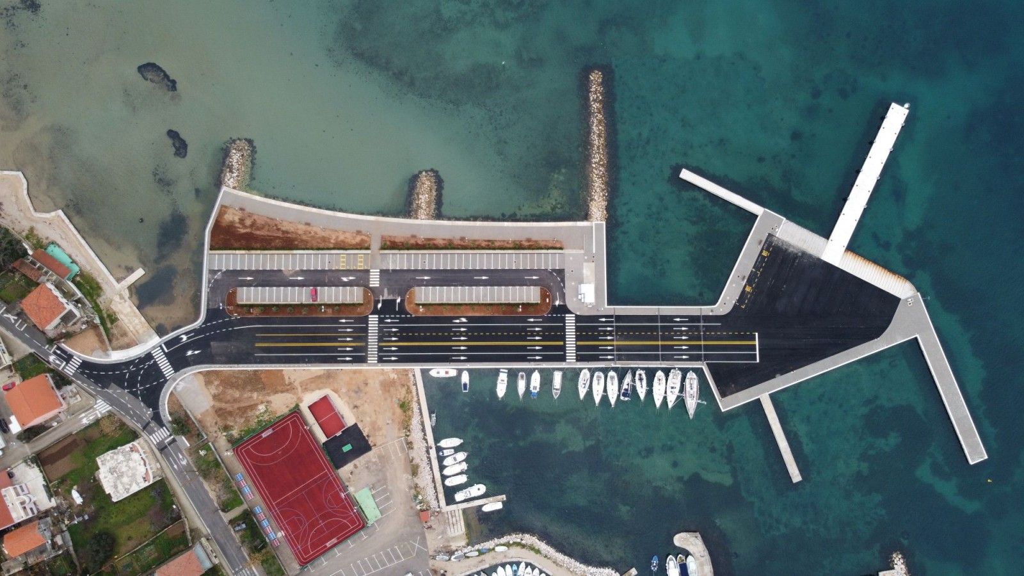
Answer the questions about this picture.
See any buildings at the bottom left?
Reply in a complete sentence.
Yes, a building can be seen at the bottom left.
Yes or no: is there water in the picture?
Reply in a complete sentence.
Yes, water can be seen from above here.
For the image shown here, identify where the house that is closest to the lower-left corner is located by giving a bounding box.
[1,515,56,576]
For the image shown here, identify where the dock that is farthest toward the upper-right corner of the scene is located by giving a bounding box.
[821,102,909,266]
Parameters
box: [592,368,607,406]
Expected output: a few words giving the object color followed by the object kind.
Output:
white boat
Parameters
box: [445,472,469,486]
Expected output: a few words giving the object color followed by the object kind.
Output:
white boat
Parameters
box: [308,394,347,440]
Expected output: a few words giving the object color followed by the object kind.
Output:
red sports court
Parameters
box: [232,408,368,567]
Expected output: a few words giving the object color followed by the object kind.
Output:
red sports court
